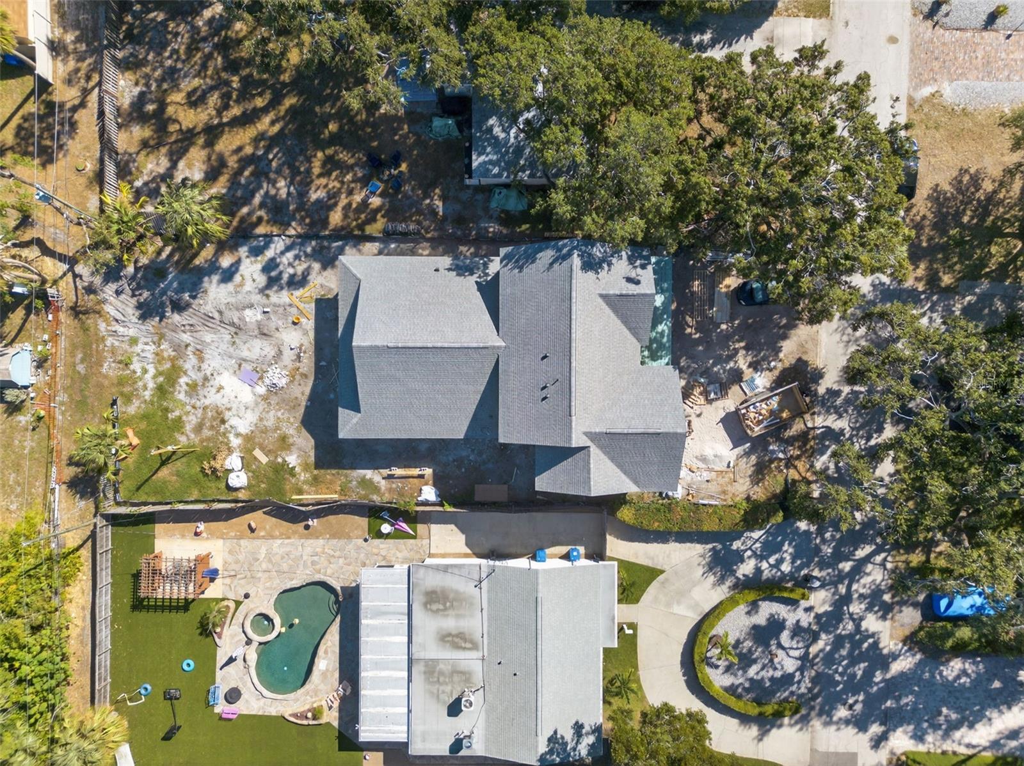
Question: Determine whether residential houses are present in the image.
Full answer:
Yes, you can see a residential house in this photo.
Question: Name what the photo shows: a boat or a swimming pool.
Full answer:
Looking from above, you can make out a swimming pool.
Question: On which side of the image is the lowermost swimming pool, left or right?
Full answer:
The lowermost swimming pool sits on the left side.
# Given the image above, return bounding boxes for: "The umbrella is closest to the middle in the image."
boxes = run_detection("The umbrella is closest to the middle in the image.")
[378,511,415,535]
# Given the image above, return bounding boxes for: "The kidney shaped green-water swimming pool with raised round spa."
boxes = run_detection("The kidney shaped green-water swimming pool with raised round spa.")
[241,575,346,703]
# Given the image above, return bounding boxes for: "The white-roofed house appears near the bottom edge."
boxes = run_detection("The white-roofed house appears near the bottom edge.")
[360,554,619,766]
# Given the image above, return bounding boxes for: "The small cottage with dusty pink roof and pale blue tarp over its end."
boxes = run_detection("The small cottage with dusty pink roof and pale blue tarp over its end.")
[0,347,42,386]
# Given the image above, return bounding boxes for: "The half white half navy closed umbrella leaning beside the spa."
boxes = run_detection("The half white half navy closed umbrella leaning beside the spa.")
[220,640,251,671]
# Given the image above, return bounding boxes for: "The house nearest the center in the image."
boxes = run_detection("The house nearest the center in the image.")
[337,240,687,496]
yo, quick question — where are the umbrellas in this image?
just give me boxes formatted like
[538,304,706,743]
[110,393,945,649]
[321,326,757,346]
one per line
[220,640,251,671]
[202,569,222,582]
[378,511,415,535]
